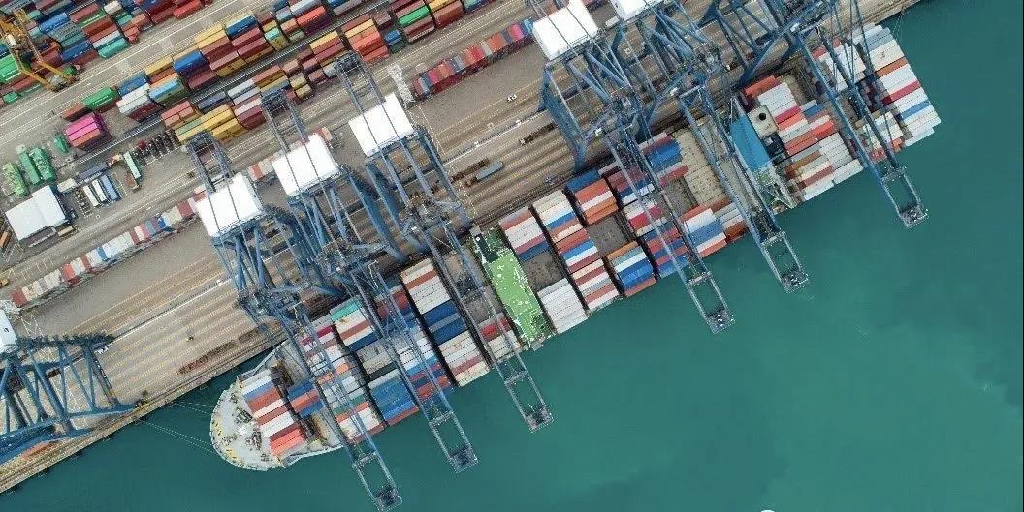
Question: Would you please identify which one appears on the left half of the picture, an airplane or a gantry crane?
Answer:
gantry crane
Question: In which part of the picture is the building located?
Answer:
left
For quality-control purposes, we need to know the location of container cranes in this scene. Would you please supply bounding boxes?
[330,48,556,434]
[184,123,405,512]
[0,3,77,93]
[694,0,933,225]
[524,0,739,333]
[593,0,813,292]
[0,302,153,469]
[257,85,480,476]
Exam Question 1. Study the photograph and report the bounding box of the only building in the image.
[10,185,77,250]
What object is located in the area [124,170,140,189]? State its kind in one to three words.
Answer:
vehicle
